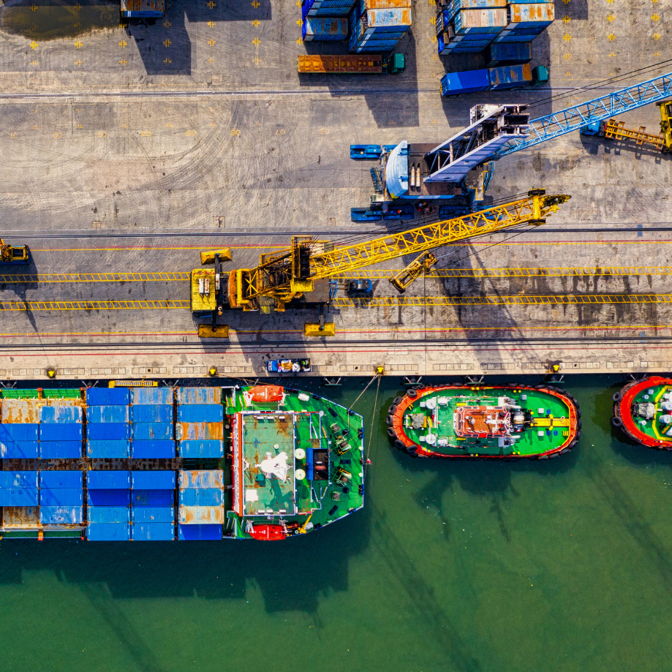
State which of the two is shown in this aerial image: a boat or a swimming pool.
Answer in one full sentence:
The one in the frame is a boat.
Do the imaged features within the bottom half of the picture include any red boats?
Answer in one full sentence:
Yes, within the bottom half of the picture there is a red boat.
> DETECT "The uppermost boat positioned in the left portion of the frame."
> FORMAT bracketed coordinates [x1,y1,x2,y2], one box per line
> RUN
[248,384,283,402]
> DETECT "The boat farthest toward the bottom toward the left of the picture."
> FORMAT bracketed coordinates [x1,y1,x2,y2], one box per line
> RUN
[251,523,286,542]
